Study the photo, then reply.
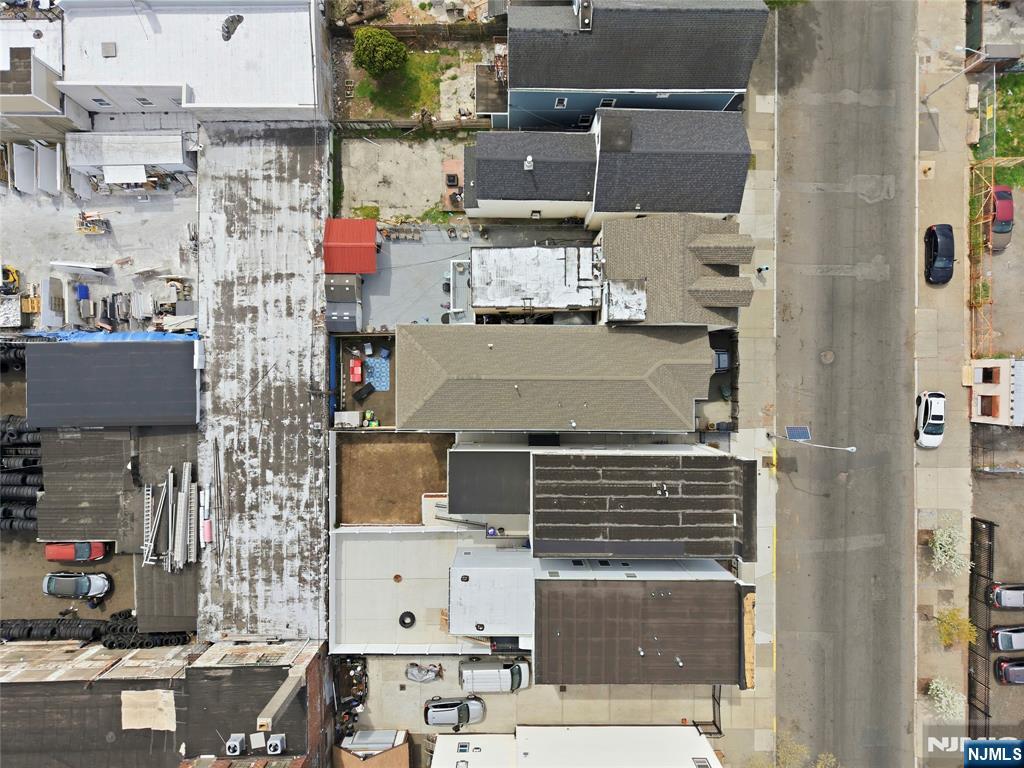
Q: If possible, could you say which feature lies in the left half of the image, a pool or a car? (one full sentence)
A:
What appears in the left half of the image is a car.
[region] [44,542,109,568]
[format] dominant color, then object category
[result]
red vehicle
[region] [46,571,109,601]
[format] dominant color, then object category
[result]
gray car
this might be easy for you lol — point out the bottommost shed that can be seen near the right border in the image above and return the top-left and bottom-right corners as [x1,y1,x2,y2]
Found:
[964,356,1024,431]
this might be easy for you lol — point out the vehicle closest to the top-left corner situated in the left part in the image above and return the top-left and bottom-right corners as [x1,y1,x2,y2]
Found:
[71,205,117,236]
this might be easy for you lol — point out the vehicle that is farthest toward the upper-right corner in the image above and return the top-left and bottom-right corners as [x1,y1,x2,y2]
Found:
[984,188,1018,250]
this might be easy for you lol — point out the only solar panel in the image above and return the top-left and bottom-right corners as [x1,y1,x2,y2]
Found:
[785,426,811,440]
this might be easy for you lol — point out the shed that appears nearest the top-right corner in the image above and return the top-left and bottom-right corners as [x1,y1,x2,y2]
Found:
[956,45,1021,72]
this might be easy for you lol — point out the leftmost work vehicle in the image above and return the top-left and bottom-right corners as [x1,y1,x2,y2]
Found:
[0,265,21,294]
